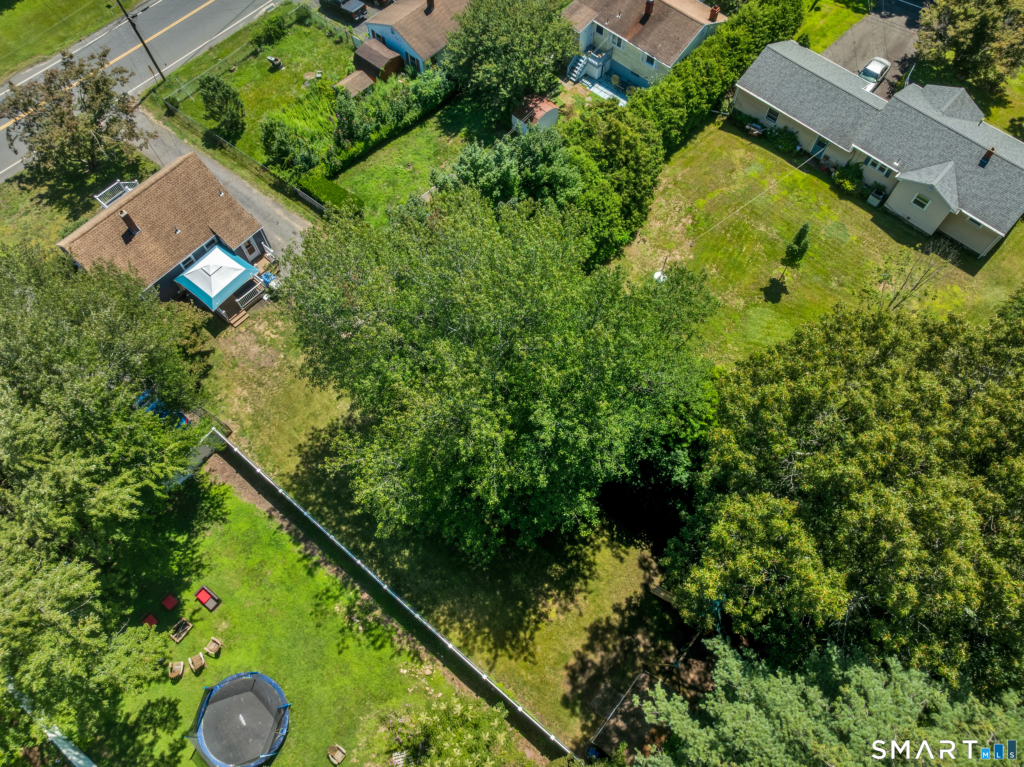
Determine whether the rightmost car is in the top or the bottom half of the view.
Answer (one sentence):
Seen from above, the rightmost car lies in the top half of the view.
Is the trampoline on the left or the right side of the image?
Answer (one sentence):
The trampoline appears in the left half of the scene.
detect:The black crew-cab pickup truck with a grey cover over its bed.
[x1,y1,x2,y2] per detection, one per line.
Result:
[317,0,370,22]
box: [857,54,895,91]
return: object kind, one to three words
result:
car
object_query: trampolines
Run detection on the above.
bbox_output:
[186,668,296,767]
